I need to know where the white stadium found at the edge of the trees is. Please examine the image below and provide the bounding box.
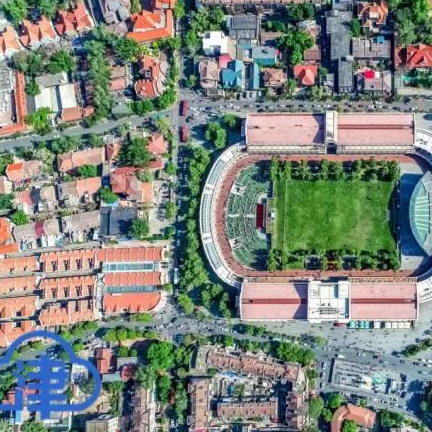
[199,111,432,323]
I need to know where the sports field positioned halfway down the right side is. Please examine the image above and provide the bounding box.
[266,161,400,269]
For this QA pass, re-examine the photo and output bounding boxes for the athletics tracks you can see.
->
[215,151,416,278]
